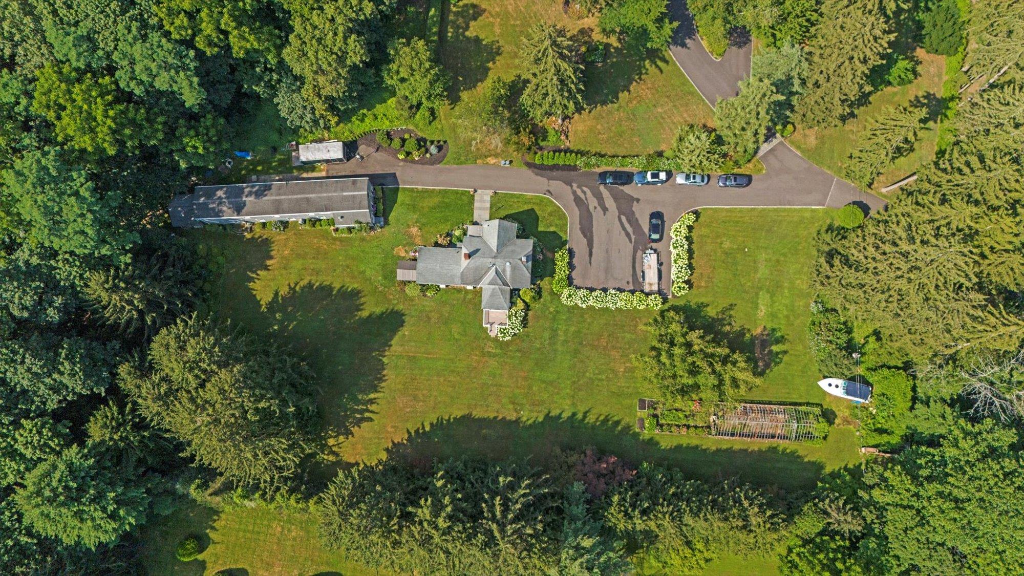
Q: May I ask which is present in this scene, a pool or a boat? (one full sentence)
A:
I can see a boat in this picture.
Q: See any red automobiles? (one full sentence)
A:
No, I find no red automobile anywhere in the image.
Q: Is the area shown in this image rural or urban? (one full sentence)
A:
The land in this view is best described as rural.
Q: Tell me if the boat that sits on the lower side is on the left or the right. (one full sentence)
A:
The boat that sits on the lower side is on the right side of the image.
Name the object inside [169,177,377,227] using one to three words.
house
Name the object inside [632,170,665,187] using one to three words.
car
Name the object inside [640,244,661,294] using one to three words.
trailer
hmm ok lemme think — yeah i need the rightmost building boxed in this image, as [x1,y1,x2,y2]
[397,219,533,337]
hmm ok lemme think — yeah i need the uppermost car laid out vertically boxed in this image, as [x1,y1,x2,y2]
[647,211,664,244]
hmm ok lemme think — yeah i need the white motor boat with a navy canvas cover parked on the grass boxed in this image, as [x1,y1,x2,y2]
[817,379,870,405]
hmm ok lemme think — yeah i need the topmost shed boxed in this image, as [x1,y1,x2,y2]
[292,142,348,168]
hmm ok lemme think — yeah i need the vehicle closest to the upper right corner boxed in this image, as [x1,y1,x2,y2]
[715,173,749,189]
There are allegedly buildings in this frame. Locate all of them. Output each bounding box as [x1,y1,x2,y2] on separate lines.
[292,142,348,168]
[397,219,533,337]
[169,177,377,227]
